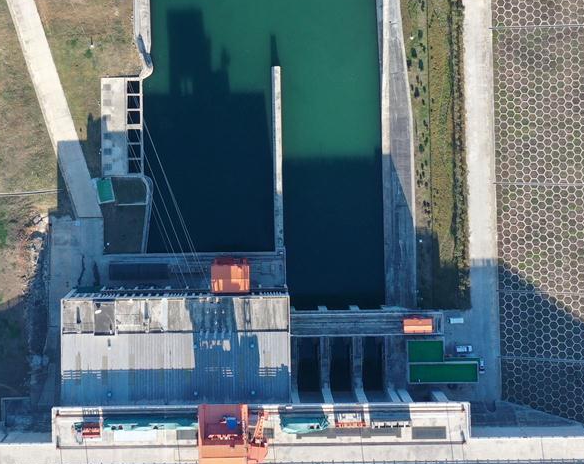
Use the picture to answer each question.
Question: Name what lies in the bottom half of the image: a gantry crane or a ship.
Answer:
gantry crane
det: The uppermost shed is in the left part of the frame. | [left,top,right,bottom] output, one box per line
[96,174,118,205]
